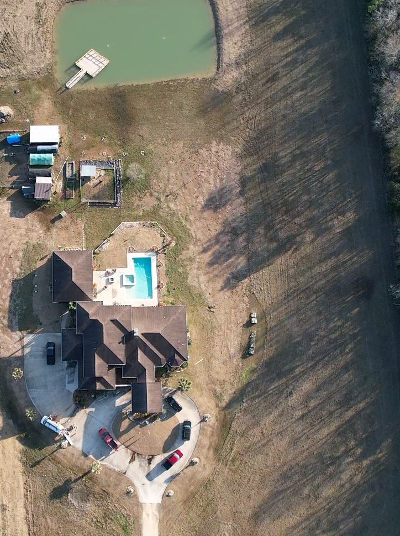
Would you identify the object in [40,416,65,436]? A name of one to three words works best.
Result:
vehicle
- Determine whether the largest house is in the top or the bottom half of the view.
bottom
